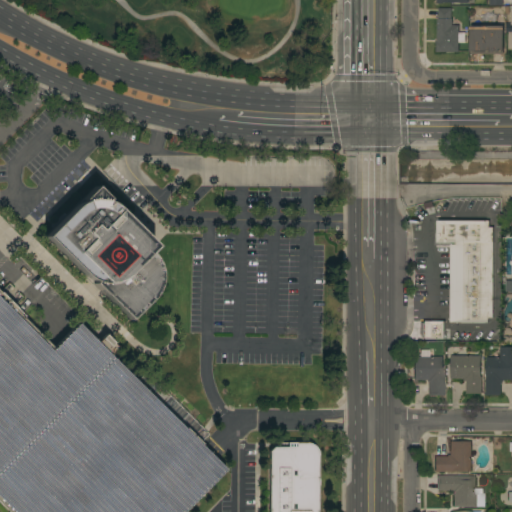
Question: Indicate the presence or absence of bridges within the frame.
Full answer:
Yes, I can see a bridge in this picture.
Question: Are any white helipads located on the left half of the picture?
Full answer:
No, I can find no white helipad on the left half of the picture.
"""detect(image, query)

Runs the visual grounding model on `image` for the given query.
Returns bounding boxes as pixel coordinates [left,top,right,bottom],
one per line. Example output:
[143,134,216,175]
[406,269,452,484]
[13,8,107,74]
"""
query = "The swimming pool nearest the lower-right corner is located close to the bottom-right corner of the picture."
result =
[476,444,490,468]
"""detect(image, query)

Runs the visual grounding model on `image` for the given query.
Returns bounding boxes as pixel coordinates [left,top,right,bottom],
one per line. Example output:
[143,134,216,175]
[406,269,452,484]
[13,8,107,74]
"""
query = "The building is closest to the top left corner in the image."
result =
[50,187,163,283]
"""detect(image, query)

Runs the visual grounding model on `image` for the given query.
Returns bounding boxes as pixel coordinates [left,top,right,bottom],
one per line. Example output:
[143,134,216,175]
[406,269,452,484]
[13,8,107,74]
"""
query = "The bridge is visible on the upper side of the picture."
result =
[344,152,400,198]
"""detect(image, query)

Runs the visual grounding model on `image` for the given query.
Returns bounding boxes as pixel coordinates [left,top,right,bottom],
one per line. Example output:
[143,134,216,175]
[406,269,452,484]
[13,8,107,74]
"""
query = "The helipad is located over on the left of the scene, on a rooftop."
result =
[98,234,141,277]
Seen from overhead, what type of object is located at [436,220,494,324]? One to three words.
building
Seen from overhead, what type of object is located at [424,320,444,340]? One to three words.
building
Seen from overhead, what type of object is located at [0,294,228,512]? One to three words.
warehouse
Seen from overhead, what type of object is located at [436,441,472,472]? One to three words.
house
